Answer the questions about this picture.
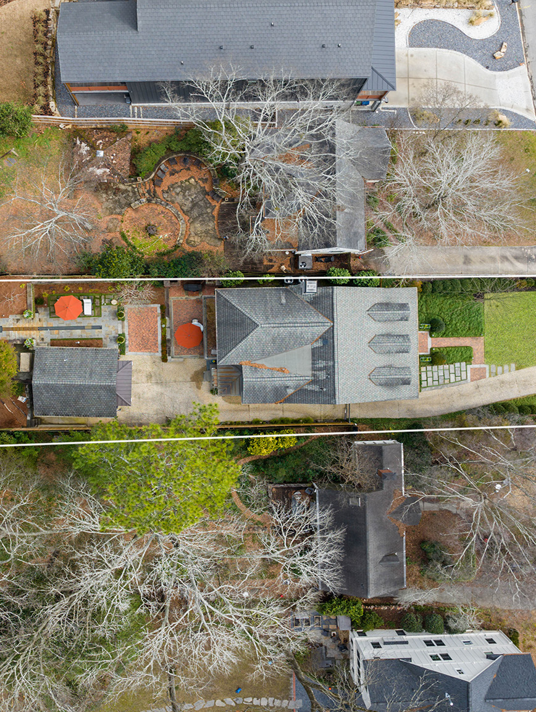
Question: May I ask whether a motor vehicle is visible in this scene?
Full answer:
No, there isn't any motor vehicle down there.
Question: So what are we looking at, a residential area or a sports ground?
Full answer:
The picture captures a residential area.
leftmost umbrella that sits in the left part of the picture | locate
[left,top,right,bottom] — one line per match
[53,293,82,321]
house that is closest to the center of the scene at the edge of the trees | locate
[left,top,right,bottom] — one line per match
[215,279,420,405]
